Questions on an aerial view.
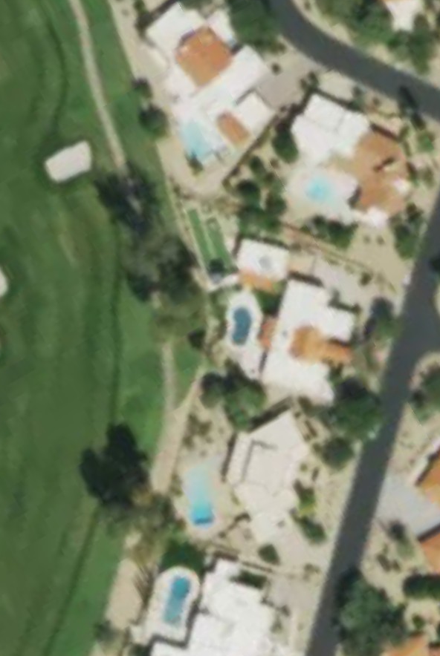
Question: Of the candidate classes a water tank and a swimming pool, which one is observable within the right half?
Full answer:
You can see a swimming pool within the right half.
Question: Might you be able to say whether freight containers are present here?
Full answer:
No, there's no freight container here.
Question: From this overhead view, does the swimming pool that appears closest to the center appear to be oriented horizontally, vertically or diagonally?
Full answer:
The swimming pool that appears closest to the center is oriented vertically.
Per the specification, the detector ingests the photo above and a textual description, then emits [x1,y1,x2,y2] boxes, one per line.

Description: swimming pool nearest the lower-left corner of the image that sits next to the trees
[163,574,194,626]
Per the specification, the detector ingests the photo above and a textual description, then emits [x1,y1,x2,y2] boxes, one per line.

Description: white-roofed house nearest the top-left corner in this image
[146,3,275,159]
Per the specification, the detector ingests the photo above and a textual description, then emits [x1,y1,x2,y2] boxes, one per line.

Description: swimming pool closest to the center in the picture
[231,305,253,347]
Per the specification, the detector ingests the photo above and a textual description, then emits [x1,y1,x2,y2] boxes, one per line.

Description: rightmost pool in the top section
[303,175,334,207]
